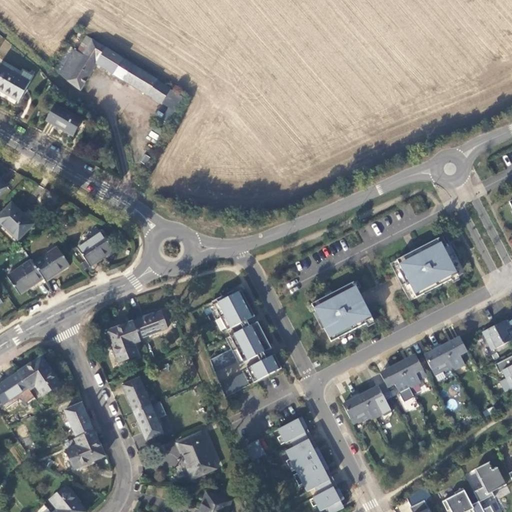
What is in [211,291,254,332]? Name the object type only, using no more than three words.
house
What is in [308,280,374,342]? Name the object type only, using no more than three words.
building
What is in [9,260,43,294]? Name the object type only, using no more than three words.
house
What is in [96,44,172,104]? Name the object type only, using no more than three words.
barn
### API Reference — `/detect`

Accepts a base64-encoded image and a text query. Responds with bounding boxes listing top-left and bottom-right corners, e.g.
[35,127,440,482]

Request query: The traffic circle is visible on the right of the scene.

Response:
[430,148,470,189]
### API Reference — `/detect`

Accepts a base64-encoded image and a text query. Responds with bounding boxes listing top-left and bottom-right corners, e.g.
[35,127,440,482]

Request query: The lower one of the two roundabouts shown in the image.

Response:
[144,220,201,277]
